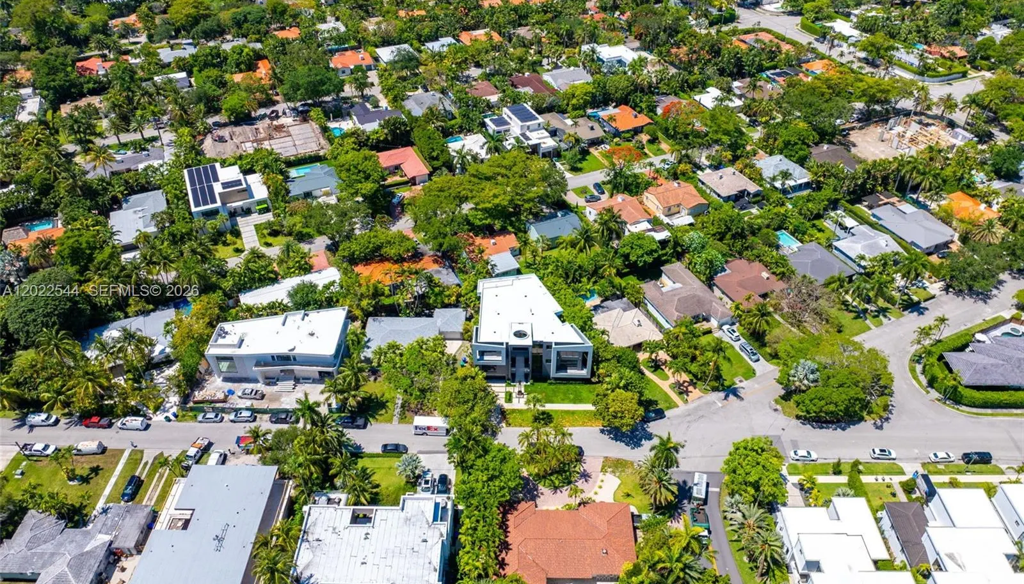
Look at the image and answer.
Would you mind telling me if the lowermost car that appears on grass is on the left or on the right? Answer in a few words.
left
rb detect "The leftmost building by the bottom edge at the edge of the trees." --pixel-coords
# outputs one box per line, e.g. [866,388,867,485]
[0,505,154,584]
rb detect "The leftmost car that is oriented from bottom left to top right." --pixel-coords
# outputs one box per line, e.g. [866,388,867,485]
[115,476,148,503]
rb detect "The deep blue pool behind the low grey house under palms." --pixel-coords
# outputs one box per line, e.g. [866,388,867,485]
[169,295,199,319]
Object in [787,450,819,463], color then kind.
white vehicle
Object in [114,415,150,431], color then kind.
white vehicle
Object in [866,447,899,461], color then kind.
white car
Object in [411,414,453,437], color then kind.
white truck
